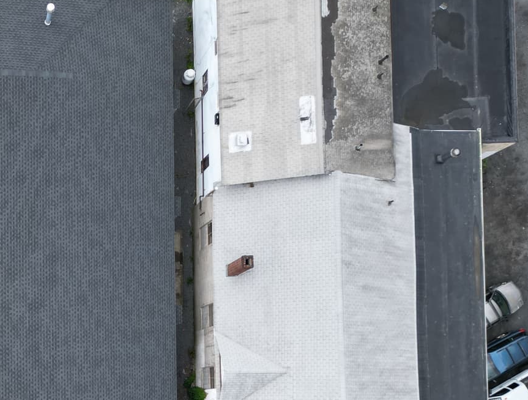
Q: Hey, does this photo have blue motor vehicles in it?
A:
Yes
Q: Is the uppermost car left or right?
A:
right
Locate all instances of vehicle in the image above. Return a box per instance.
[489,368,528,400]
[487,279,527,331]
[489,330,528,392]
